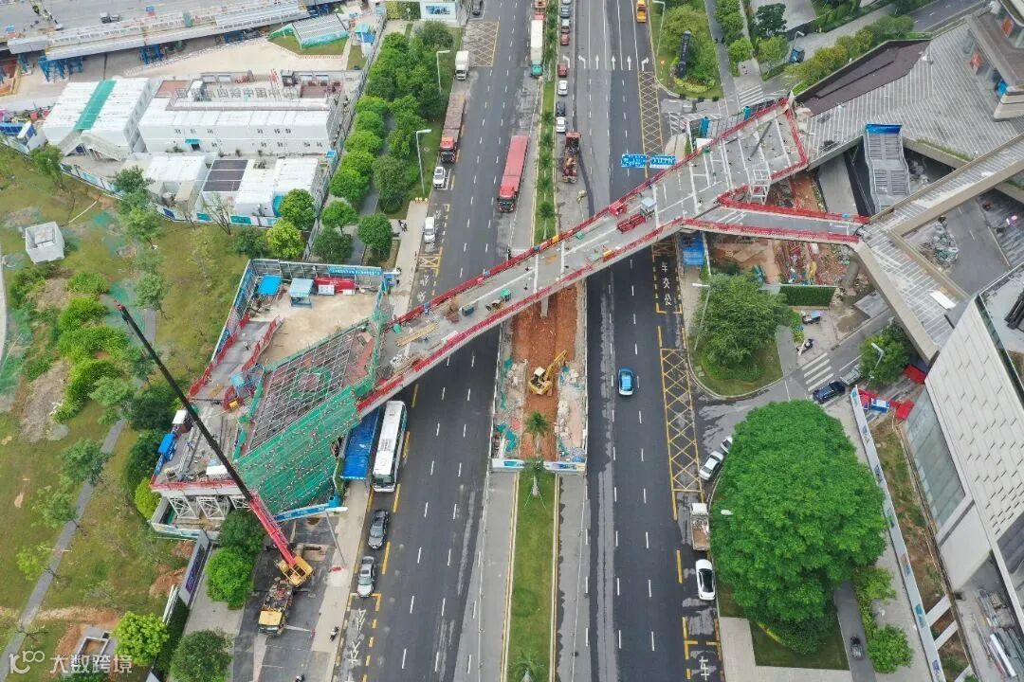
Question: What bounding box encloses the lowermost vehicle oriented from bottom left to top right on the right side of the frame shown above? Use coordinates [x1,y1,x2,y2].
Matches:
[696,448,726,482]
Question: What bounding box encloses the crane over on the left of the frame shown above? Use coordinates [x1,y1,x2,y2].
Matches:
[116,302,334,655]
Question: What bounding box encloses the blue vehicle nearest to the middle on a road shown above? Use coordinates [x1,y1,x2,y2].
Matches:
[617,370,634,397]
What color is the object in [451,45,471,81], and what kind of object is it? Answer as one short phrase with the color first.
white vehicle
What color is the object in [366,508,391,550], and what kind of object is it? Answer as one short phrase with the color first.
gray car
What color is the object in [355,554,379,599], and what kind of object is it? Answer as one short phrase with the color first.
gray car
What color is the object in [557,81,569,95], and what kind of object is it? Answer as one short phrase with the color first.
white vehicle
